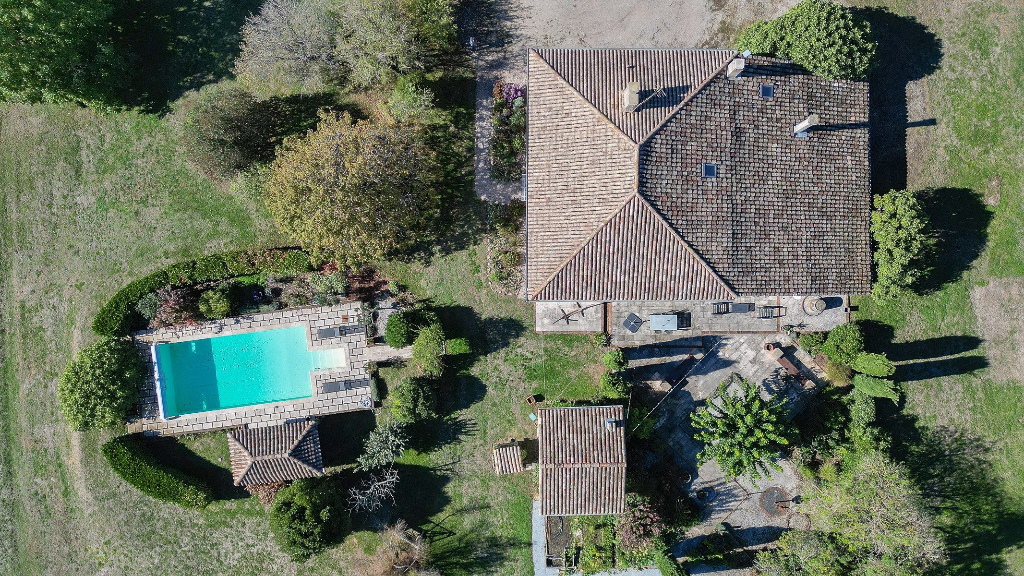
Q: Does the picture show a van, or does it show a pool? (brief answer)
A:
pool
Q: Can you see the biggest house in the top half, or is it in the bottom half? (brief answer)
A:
top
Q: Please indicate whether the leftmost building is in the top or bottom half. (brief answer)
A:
bottom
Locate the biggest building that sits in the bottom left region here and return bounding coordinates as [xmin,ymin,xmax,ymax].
[225,419,328,488]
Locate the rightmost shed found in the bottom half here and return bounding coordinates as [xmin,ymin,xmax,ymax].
[536,404,630,519]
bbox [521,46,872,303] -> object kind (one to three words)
house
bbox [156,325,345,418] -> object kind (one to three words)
swimming pool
